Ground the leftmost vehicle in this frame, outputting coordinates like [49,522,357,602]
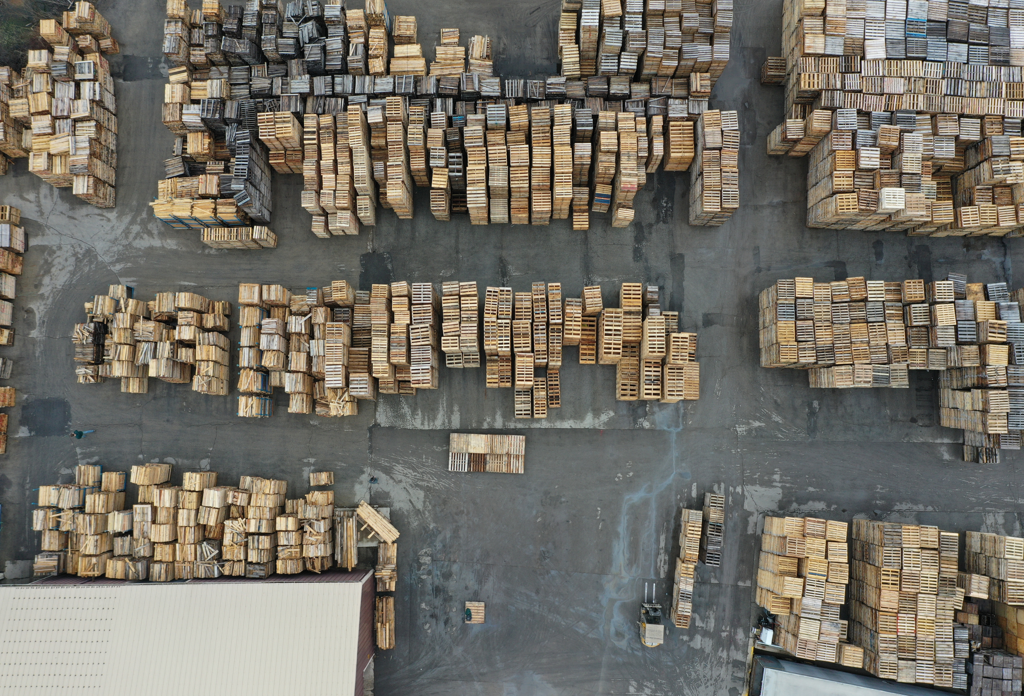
[637,578,665,649]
